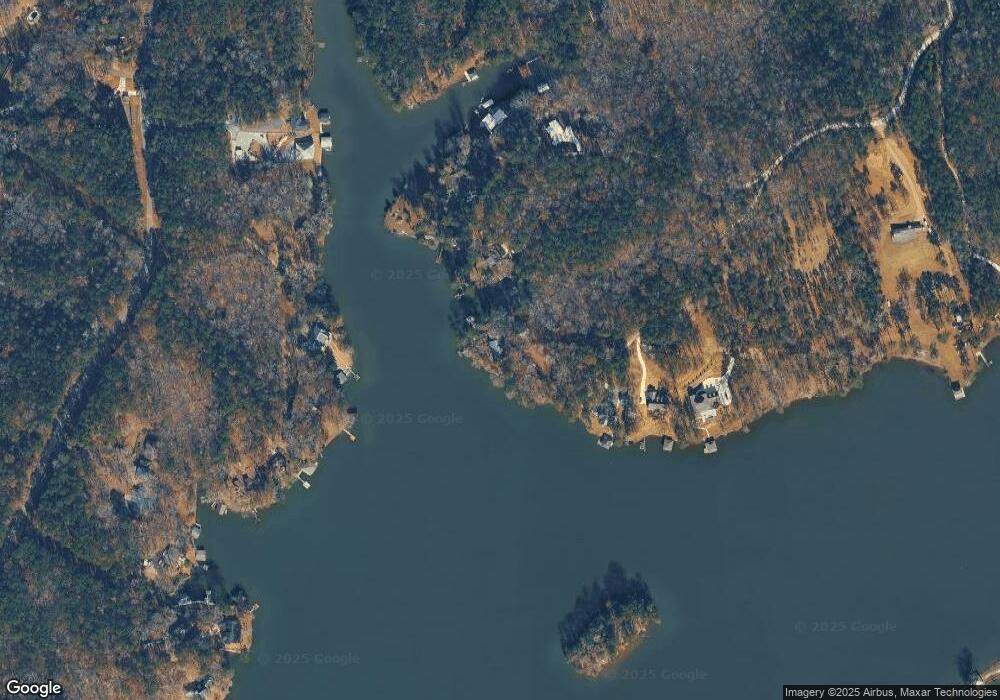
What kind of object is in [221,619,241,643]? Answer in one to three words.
house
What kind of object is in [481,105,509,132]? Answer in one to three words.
house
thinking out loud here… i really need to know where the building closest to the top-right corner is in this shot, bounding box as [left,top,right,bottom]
[891,222,925,242]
